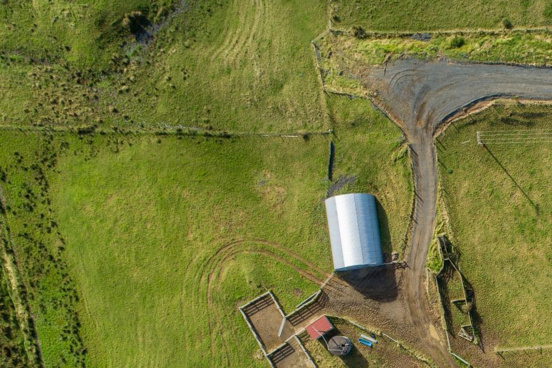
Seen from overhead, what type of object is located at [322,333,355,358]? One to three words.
water tank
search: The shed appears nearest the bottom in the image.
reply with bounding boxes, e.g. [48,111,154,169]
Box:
[306,316,334,340]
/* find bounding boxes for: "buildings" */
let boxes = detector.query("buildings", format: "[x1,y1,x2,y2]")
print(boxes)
[326,192,383,271]
[306,316,334,340]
